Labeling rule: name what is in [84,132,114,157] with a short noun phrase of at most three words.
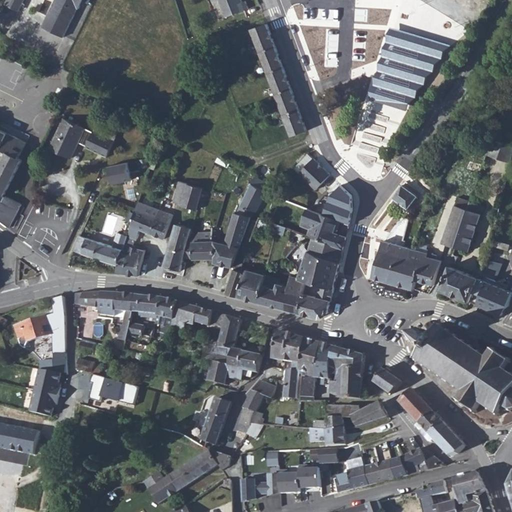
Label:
shed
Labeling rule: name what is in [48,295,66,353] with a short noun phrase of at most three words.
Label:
building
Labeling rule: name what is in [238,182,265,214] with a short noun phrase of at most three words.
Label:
house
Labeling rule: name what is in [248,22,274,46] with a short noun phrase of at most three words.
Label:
house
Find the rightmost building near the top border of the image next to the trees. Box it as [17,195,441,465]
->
[368,22,452,110]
